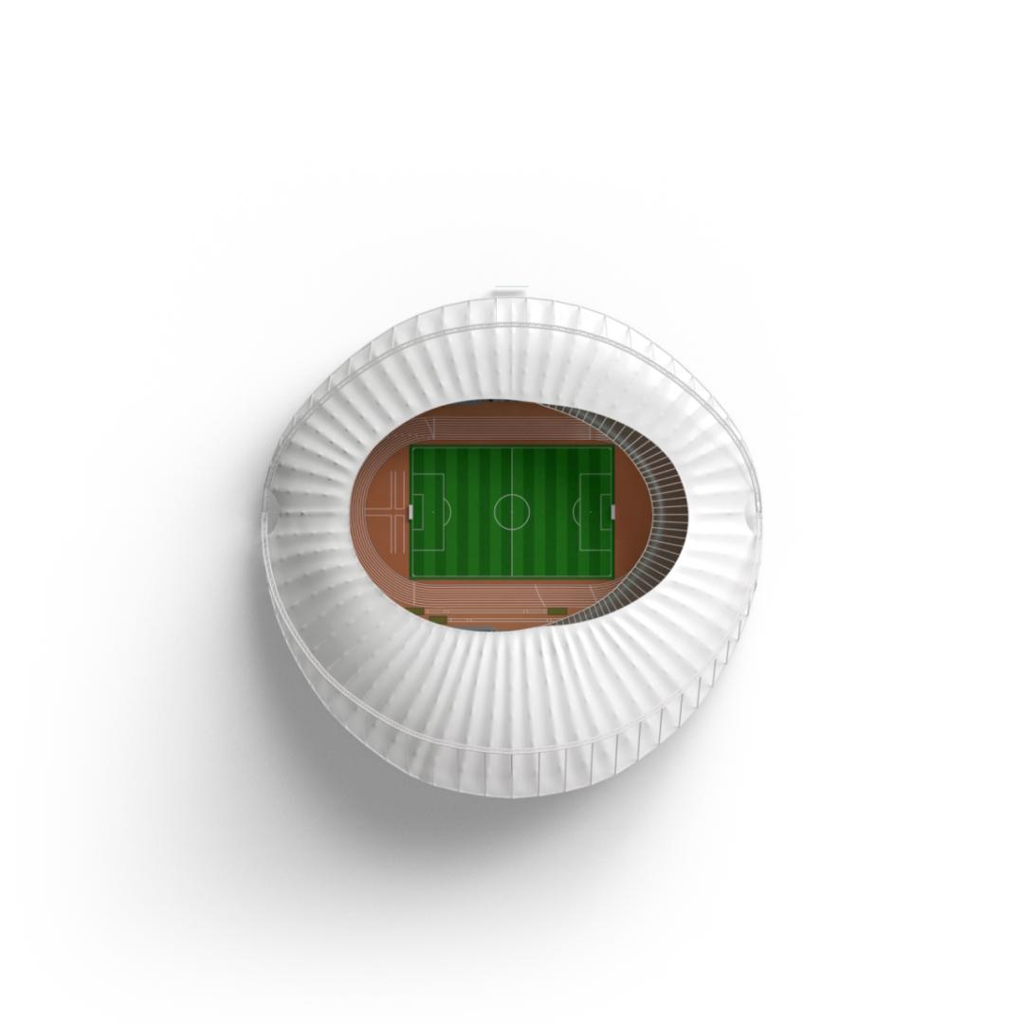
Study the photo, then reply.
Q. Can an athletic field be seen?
Yes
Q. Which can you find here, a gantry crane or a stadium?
stadium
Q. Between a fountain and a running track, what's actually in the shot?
running track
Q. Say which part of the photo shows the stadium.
center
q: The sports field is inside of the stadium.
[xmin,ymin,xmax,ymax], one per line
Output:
[409,445,615,580]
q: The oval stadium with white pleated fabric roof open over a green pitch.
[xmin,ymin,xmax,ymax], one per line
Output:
[261,296,763,799]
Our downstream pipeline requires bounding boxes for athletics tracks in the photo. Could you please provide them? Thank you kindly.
[351,400,652,631]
